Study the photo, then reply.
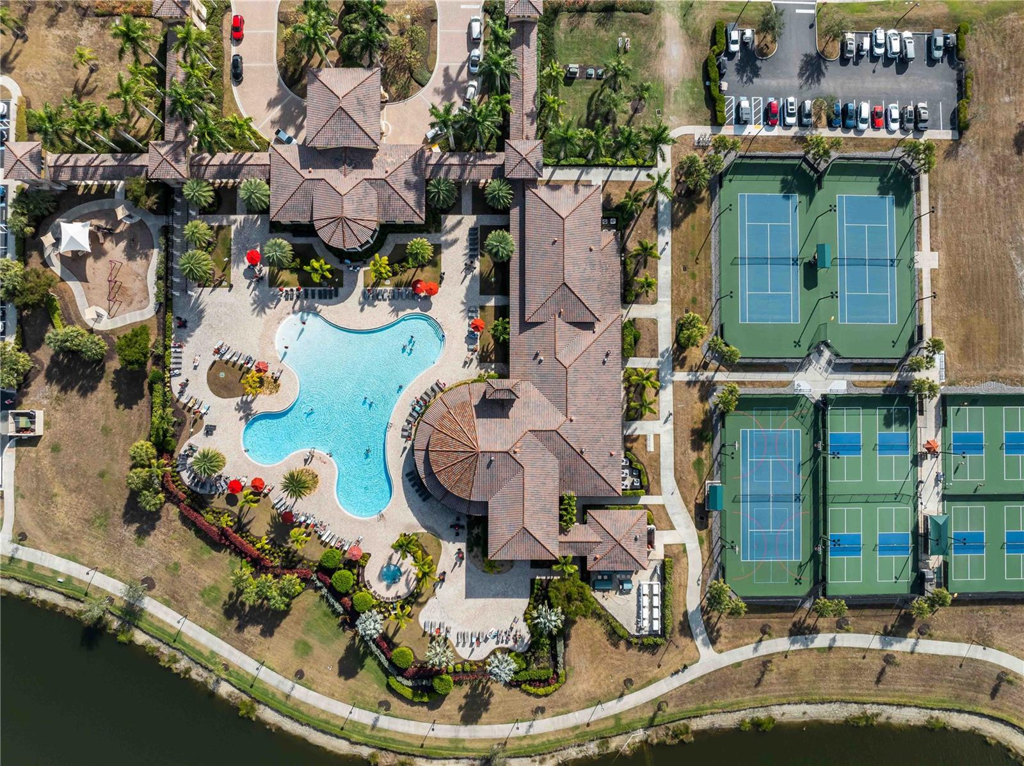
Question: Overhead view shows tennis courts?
Yes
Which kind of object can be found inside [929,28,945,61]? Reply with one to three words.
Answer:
vehicle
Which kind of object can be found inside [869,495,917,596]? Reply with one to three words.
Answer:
sports court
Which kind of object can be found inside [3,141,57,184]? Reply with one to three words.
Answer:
building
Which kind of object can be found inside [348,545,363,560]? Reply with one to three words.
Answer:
umbrella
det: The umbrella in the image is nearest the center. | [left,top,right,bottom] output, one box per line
[470,318,485,333]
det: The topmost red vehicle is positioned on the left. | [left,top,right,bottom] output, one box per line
[231,14,245,41]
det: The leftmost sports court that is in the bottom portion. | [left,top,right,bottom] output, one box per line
[723,395,820,596]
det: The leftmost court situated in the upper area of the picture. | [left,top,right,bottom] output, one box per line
[721,158,818,357]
